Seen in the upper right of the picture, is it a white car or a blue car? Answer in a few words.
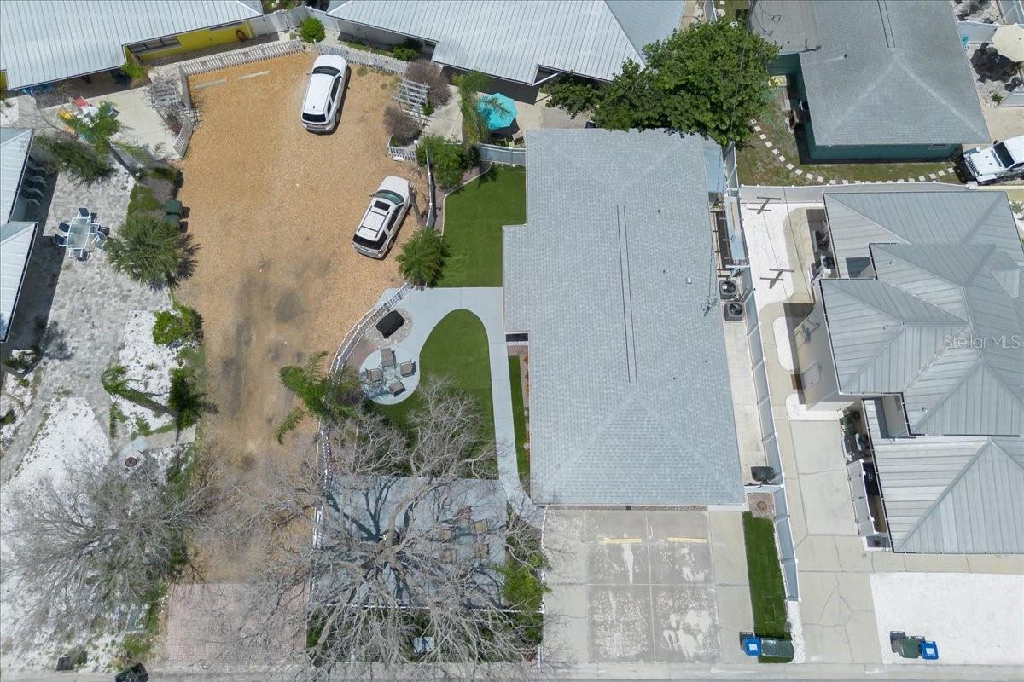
white car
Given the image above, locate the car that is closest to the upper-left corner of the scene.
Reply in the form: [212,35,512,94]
[295,54,349,133]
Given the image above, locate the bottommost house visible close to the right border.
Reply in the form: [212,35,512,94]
[796,189,1024,557]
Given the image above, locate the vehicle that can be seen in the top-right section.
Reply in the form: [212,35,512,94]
[957,127,1024,183]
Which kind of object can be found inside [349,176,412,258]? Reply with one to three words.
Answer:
car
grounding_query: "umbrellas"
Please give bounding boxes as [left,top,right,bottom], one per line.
[472,95,523,147]
[988,22,1024,79]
